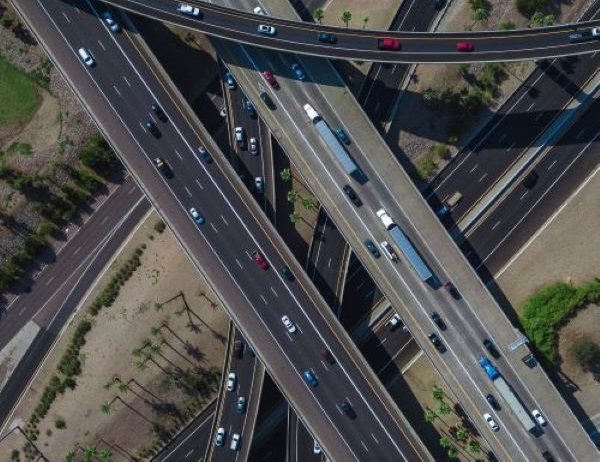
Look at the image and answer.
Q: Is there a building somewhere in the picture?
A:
No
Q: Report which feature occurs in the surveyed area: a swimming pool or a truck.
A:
truck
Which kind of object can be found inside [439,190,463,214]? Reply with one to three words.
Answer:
truck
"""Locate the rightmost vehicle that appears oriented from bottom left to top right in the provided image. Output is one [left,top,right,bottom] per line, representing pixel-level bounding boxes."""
[523,172,539,188]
